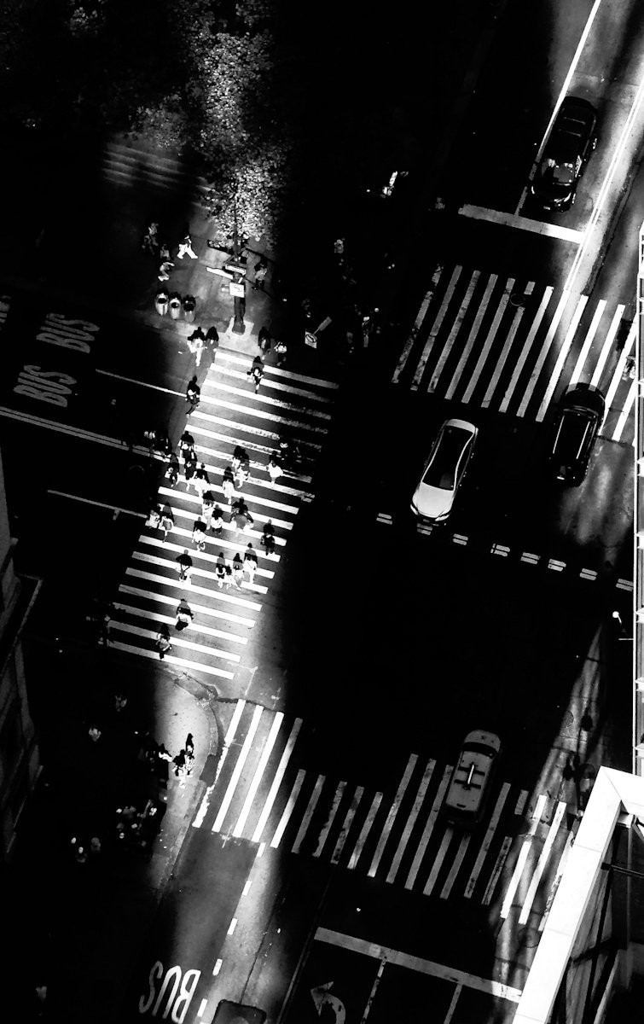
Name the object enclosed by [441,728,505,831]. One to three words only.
car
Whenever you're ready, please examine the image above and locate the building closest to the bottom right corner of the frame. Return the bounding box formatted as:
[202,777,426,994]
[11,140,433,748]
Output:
[516,766,644,1024]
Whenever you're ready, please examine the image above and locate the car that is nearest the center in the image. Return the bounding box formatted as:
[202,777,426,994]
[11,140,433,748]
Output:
[414,420,476,522]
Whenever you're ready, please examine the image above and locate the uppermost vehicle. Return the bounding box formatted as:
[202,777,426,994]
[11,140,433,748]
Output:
[529,109,590,207]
